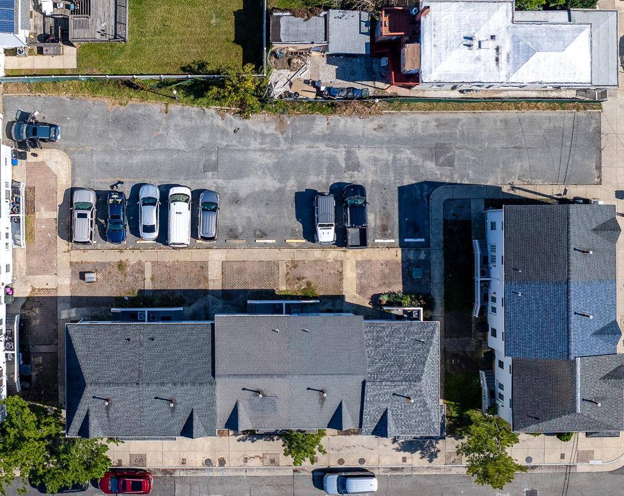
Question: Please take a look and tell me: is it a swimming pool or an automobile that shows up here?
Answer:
automobile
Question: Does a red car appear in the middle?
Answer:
No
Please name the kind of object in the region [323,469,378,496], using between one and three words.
car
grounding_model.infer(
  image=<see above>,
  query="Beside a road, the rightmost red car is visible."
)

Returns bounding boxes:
[100,468,154,496]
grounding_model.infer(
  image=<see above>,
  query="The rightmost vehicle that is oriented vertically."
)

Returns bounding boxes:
[343,182,370,249]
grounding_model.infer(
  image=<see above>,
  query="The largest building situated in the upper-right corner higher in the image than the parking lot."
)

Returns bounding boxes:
[410,1,618,98]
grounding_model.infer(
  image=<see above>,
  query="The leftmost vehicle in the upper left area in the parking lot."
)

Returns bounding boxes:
[9,110,65,153]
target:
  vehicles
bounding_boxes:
[137,185,162,240]
[343,182,370,249]
[9,110,65,153]
[165,185,193,249]
[323,469,378,496]
[100,468,154,496]
[194,189,221,243]
[104,190,130,246]
[312,194,338,244]
[69,189,97,243]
